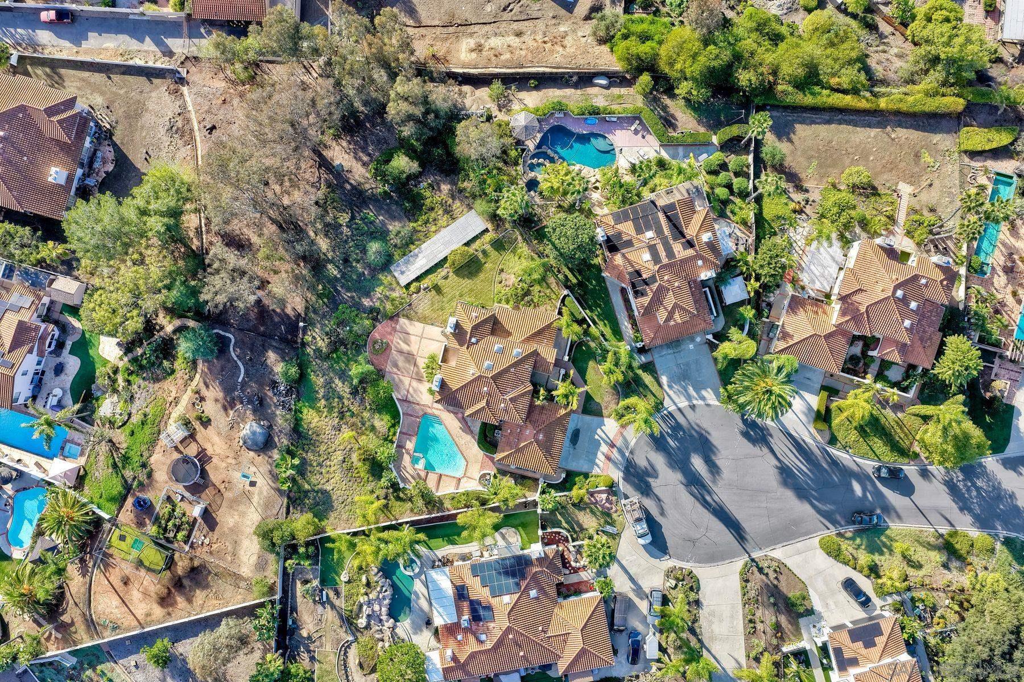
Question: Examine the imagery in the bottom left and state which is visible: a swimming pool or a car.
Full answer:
Visible in the bottom left is a swimming pool.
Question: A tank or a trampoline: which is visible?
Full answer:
Visible in the photo is a trampoline.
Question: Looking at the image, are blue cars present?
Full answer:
Yes, the frame does contain a blue car.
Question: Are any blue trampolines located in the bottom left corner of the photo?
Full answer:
Yes, looking in the bottom left corner of the photo, one can make out a blue trampoline.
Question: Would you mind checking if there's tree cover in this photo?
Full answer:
Yes, the picture does contain tree cover.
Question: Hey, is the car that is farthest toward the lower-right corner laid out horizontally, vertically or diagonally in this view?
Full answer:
Seen from above, the car that is farthest toward the lower-right corner lies diagonally.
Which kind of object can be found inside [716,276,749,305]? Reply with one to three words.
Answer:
gazebo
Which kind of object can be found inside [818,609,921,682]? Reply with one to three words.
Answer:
house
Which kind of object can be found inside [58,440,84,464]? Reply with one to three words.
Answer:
swimming pool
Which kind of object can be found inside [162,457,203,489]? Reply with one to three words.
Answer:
trampoline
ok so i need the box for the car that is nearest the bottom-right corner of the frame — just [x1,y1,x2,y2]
[843,577,873,611]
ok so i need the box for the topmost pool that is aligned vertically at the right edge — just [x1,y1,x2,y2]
[970,168,1018,279]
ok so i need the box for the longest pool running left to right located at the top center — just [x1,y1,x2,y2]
[535,123,619,170]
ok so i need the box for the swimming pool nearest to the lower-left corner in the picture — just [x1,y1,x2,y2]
[5,485,51,552]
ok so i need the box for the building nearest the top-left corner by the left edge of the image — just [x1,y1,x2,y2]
[0,72,99,220]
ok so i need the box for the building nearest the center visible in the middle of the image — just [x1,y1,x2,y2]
[430,301,573,476]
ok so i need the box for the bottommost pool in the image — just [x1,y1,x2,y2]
[377,557,416,625]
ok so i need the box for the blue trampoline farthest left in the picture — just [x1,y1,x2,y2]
[132,496,149,512]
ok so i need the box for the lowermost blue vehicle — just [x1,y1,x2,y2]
[628,632,644,667]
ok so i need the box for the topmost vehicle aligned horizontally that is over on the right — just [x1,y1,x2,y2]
[873,465,908,481]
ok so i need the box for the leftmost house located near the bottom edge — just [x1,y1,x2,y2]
[439,536,615,682]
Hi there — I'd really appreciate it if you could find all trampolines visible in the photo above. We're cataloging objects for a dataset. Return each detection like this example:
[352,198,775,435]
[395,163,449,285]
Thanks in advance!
[162,457,203,489]
[132,496,149,512]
